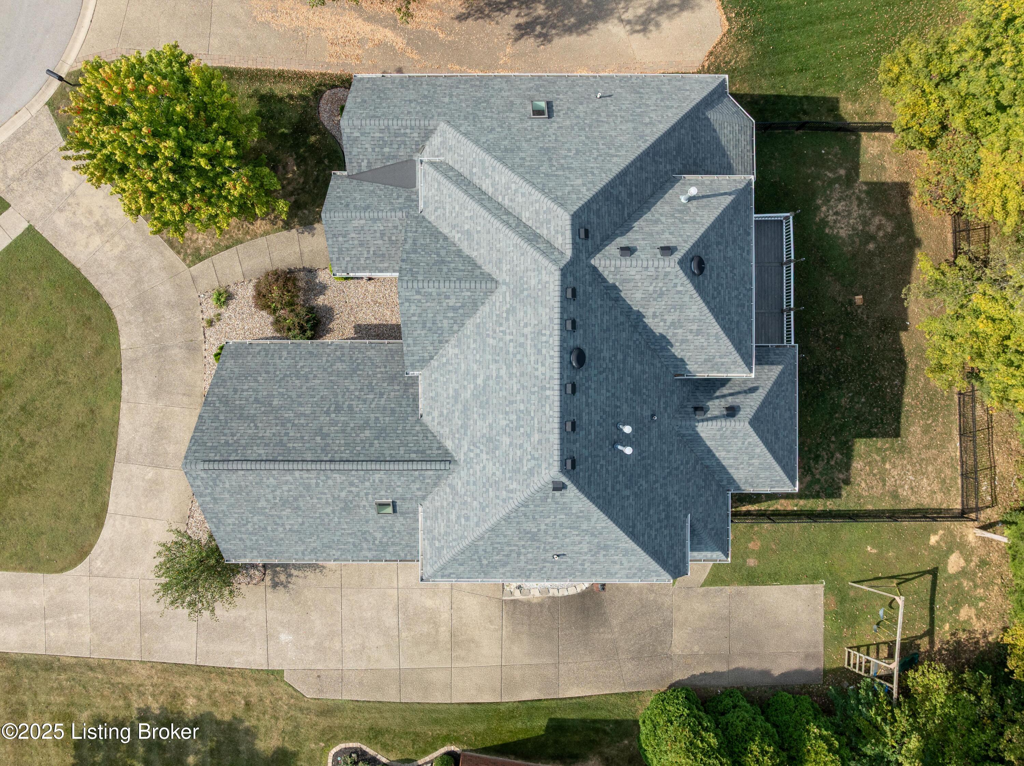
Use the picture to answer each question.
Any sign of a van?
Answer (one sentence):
No, this view has no van in it.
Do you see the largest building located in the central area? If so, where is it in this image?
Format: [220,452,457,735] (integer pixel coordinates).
[181,75,798,583]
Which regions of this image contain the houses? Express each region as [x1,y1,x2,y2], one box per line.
[459,751,561,766]
[181,75,798,583]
